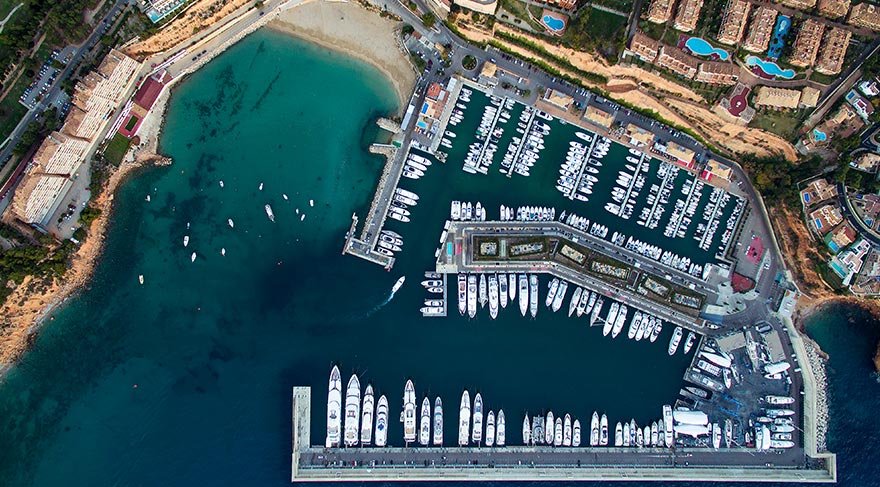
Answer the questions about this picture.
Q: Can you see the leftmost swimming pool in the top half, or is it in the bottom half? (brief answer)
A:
top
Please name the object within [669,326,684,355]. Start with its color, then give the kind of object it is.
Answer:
white boat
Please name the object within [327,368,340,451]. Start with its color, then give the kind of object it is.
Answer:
white boat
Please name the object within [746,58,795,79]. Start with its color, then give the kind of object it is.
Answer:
blue swimming pool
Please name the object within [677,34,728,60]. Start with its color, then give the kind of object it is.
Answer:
blue swimming pool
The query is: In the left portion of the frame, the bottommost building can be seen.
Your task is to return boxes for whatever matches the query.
[5,161,68,224]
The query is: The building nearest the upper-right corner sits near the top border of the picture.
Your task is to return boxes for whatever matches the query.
[846,1,880,34]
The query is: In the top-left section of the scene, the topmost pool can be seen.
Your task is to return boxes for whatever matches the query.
[146,0,194,22]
